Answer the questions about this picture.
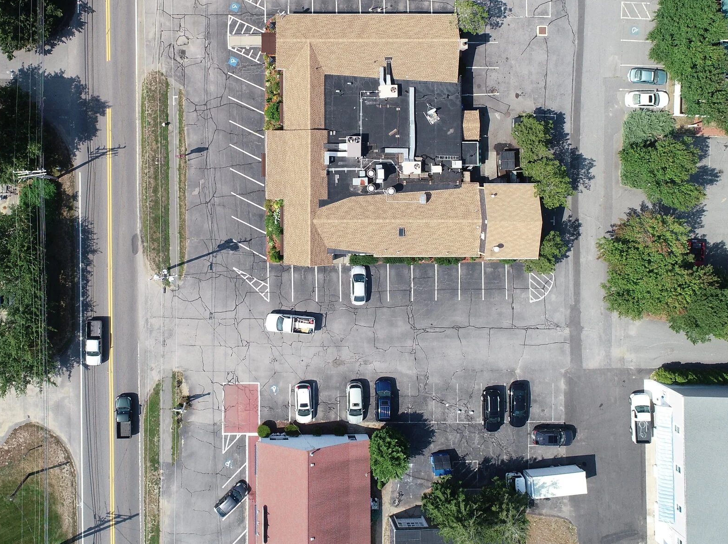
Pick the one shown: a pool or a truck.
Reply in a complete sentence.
I can see a truck in this picture.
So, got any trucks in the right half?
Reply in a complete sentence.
Yes, the scene does show a truck in the right half.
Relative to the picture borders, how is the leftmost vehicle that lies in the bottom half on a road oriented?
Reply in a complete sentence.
The leftmost vehicle that lies in the bottom half on a road is laid out vertically.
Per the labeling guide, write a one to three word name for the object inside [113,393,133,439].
vehicle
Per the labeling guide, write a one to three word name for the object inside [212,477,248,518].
car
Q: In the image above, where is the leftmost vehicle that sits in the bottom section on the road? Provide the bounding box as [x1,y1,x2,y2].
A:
[84,317,104,366]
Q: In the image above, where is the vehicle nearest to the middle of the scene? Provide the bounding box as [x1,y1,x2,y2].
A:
[349,264,368,305]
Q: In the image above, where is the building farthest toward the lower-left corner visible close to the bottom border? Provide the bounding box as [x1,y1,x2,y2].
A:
[255,438,369,544]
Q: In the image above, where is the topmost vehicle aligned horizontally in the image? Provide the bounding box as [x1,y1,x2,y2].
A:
[625,67,667,86]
